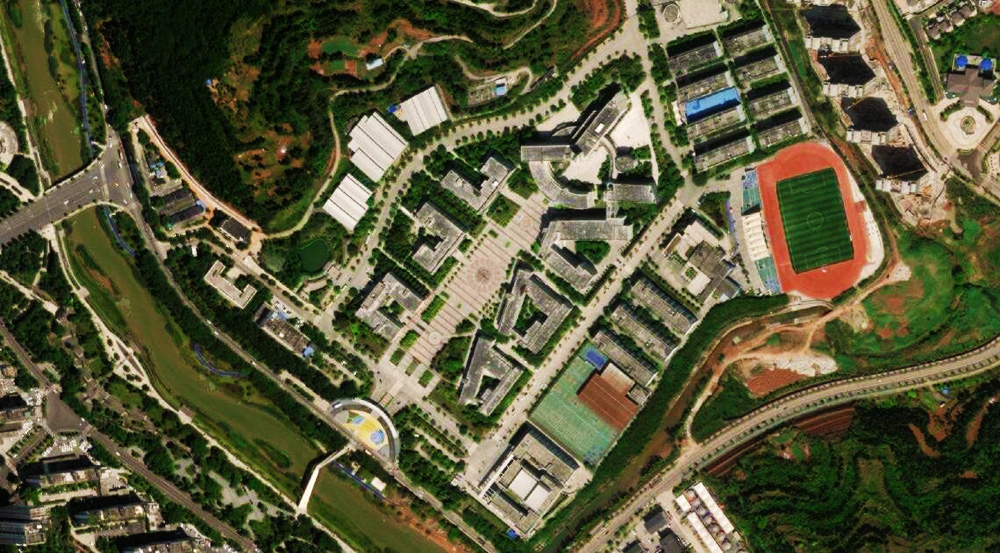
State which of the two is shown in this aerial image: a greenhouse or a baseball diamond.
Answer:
greenhouse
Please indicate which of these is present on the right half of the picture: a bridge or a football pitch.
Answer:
football pitch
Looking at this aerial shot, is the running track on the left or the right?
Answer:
right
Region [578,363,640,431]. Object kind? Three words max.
basketball court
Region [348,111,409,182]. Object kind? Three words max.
greenhouse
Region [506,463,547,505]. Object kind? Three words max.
building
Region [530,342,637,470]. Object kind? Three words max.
sports court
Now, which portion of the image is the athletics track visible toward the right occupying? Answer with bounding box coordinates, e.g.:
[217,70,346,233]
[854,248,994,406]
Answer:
[757,142,867,299]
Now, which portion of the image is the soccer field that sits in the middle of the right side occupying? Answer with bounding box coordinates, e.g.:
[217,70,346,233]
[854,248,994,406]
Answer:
[776,166,854,274]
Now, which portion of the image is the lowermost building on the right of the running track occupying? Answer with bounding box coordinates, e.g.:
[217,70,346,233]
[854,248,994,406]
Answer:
[876,172,927,192]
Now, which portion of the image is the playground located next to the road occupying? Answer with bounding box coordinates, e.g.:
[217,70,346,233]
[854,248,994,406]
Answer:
[345,411,387,450]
